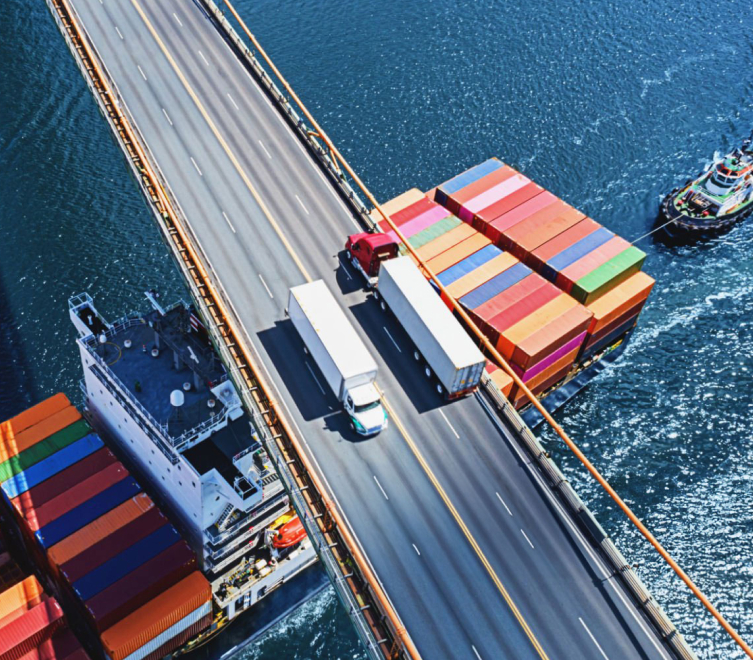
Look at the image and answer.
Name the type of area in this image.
port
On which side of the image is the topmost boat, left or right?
right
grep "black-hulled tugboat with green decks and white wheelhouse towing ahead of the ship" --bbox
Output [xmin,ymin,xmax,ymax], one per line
[652,123,753,239]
